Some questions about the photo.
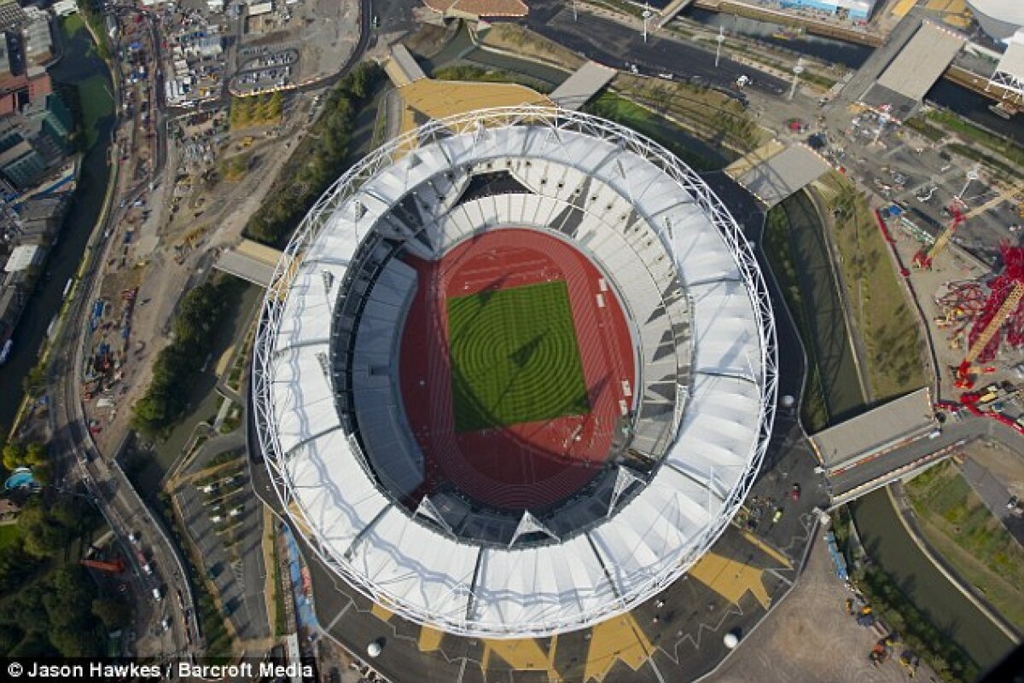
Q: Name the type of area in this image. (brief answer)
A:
sports ground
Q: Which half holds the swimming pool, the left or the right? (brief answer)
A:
left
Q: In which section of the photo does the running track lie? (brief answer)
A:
center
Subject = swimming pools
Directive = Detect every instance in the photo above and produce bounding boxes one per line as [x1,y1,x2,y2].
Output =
[2,466,35,489]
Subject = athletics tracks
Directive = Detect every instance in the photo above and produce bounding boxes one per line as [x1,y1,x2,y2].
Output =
[428,231,622,505]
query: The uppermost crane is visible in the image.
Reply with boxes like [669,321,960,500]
[910,183,1024,267]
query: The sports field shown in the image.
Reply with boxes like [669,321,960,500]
[448,281,589,432]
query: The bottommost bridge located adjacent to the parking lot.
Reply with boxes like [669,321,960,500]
[72,408,201,683]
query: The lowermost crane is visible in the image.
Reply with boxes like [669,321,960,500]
[954,283,1024,388]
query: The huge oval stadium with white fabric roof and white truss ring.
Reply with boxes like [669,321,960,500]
[253,104,780,641]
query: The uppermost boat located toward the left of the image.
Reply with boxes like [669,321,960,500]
[61,276,73,300]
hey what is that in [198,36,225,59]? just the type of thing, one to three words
building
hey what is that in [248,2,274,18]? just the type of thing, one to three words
shed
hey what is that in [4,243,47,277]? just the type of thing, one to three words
building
